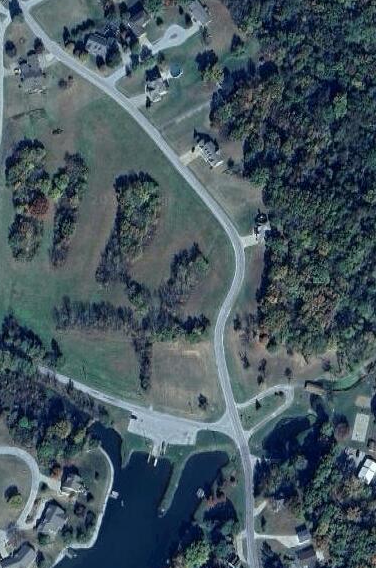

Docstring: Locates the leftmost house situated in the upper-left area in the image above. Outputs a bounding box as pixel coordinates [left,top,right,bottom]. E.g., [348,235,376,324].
[21,61,45,92]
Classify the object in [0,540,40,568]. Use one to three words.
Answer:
house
